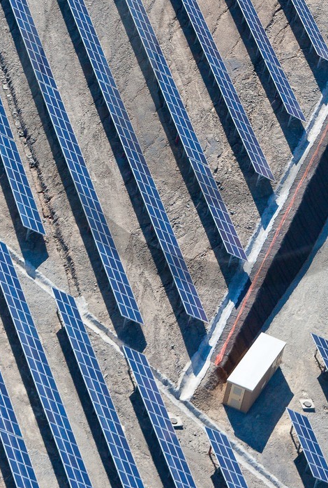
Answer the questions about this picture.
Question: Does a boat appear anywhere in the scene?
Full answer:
No, the frame has no boat in it.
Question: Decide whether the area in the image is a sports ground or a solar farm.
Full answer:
It's a solar farm.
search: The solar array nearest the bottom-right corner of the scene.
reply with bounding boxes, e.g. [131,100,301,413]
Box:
[287,407,328,488]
